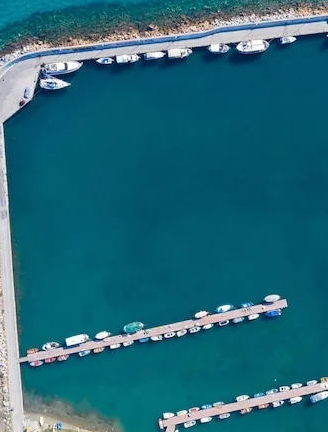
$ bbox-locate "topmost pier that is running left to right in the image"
[17,299,287,362]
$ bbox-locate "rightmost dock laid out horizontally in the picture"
[162,382,328,432]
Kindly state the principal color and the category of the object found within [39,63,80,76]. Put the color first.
white boat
